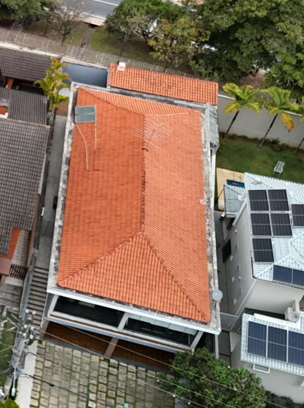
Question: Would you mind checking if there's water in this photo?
No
